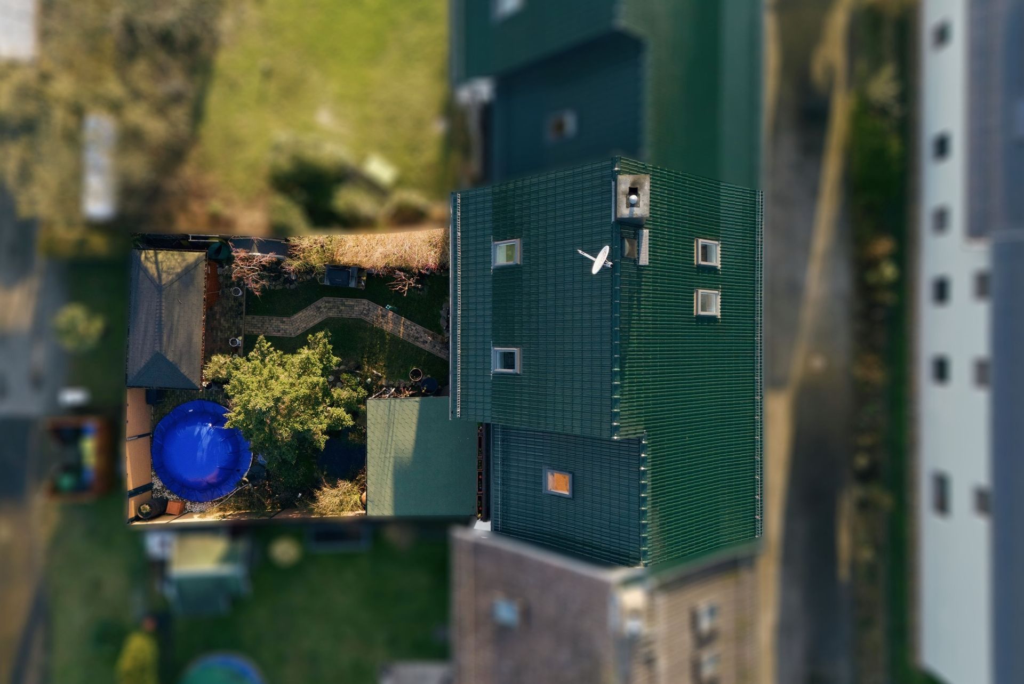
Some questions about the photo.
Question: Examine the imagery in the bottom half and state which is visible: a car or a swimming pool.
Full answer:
The one visible in the bottom half is a swimming pool.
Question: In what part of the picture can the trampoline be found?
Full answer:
You can find the trampoline in the bottom left area of the picture.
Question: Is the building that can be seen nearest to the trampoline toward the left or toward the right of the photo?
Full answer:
It is on the left.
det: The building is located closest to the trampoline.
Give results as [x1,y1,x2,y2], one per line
[166,528,261,615]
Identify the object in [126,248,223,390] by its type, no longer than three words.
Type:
shed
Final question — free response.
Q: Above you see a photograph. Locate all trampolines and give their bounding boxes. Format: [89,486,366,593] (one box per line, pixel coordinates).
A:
[183,649,268,684]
